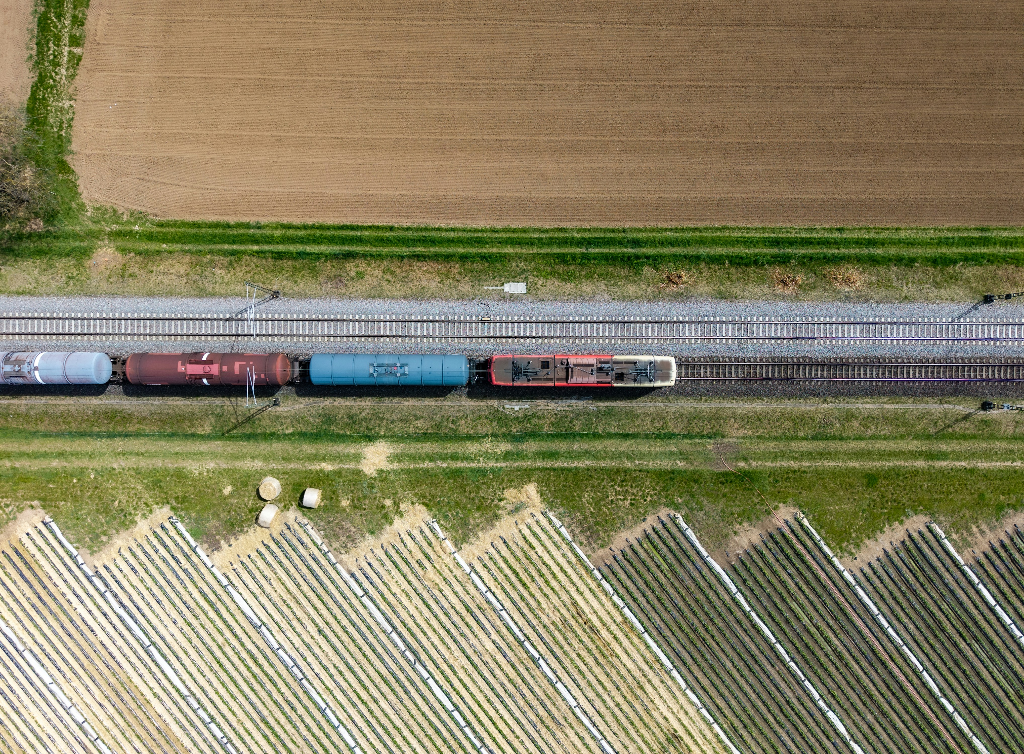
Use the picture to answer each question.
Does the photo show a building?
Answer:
No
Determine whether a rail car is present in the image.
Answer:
Yes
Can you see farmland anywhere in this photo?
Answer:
Yes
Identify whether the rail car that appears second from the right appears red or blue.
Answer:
blue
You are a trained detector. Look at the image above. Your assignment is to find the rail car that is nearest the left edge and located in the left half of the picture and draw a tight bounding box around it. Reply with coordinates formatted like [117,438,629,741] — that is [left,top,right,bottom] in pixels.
[0,351,127,384]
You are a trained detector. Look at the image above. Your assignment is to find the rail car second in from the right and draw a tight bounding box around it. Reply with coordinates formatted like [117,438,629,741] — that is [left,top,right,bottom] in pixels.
[303,353,483,386]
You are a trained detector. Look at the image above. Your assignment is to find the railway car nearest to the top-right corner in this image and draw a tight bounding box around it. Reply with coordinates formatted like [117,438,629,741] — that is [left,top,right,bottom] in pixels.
[483,354,680,387]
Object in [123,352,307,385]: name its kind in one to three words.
rail car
